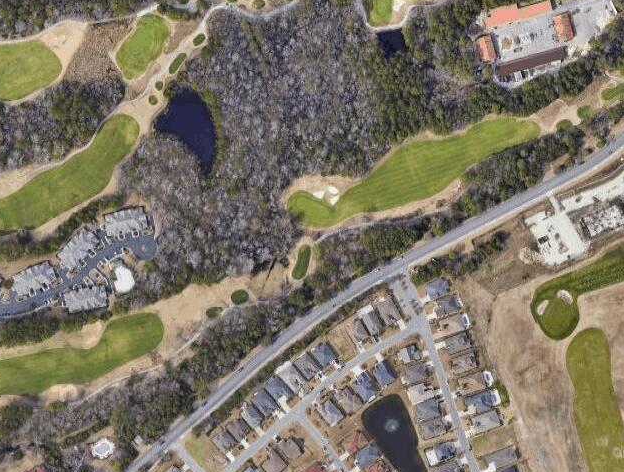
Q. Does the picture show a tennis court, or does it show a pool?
pool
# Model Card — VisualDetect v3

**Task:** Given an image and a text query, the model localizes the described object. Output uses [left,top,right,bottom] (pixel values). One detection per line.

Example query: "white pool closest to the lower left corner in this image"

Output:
[92,438,114,458]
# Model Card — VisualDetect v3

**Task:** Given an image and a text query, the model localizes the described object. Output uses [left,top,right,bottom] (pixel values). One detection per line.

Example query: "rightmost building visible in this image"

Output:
[553,13,575,41]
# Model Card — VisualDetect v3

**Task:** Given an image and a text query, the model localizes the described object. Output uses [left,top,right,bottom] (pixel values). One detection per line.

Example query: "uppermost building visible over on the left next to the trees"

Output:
[104,209,148,236]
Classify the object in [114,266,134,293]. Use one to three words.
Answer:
swimming pool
